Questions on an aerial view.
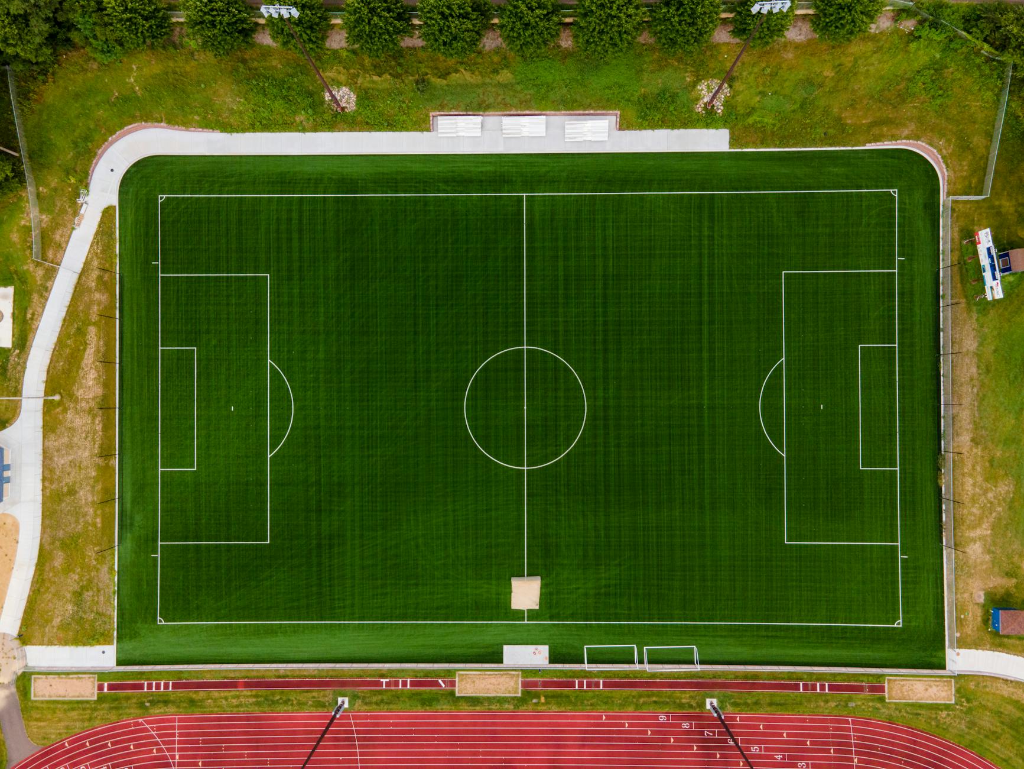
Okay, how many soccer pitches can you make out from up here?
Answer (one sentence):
In total, 1 soccer pitch can be seen.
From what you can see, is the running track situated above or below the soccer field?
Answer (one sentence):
The running track appears below the soccer field in the picture.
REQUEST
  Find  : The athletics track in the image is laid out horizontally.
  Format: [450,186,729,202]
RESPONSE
[9,710,1002,769]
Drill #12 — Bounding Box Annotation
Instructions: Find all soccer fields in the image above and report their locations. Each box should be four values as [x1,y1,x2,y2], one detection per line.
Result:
[115,146,949,669]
